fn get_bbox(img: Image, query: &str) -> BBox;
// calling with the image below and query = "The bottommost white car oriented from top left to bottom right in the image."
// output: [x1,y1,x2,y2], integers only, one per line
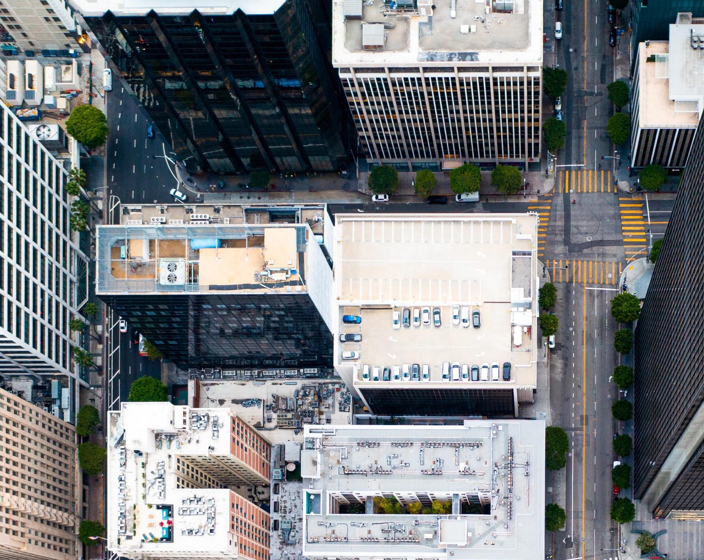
[170,189,188,202]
